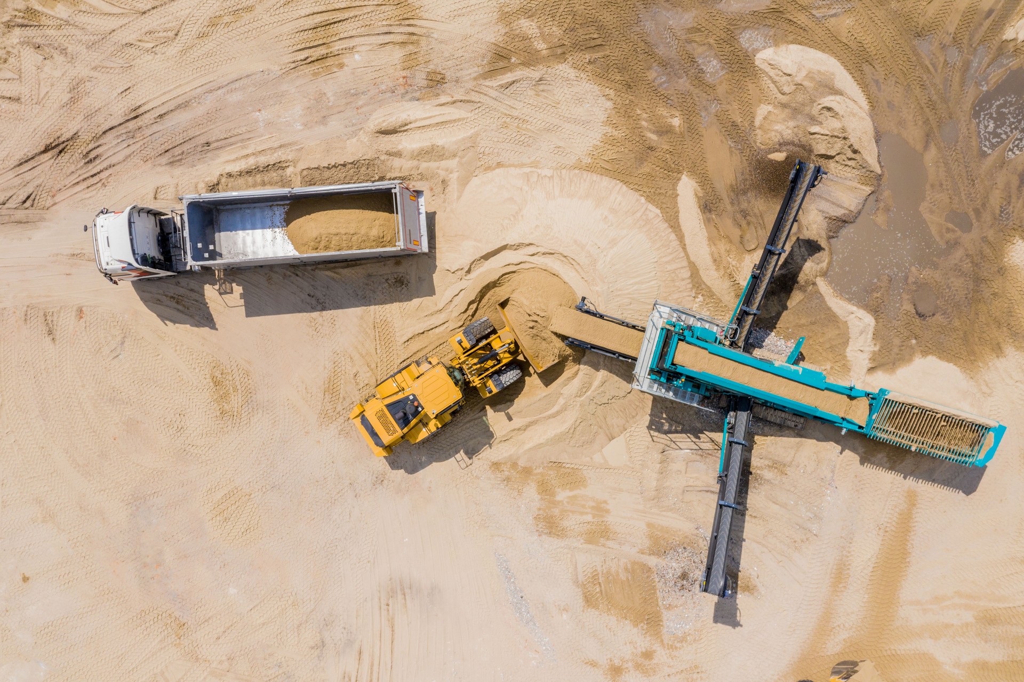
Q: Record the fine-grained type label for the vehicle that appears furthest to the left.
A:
truck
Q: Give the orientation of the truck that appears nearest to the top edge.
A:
from left to right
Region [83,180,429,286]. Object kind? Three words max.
truck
